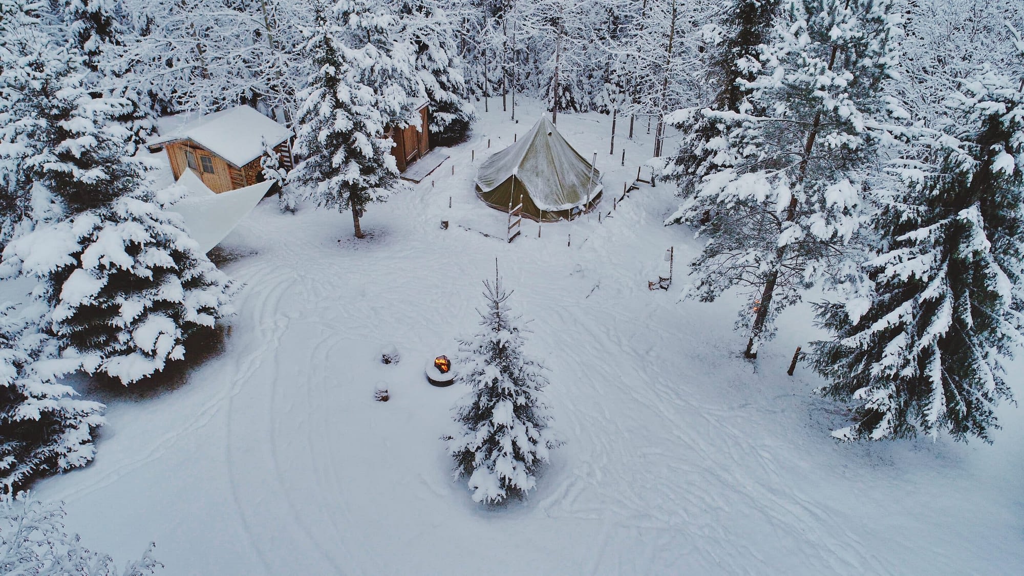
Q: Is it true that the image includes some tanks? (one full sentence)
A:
No, I can't see a single tank in this photo.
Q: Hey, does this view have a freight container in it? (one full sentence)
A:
No, there isn't any freight container down there.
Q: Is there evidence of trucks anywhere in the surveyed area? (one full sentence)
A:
No, no truck is visible in the scene.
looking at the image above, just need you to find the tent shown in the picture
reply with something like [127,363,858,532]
[473,110,605,223]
